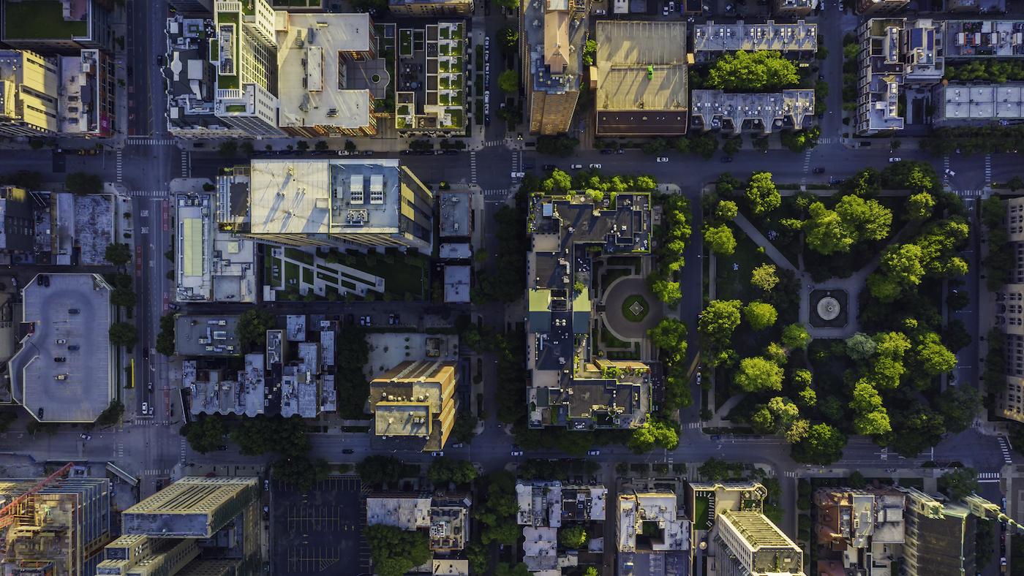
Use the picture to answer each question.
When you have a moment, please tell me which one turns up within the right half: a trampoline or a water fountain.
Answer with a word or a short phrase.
water fountain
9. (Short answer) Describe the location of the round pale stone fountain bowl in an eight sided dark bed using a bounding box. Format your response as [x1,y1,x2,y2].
[809,289,848,328]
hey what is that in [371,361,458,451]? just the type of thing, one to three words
building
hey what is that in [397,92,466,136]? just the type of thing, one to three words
house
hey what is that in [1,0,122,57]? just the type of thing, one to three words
building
